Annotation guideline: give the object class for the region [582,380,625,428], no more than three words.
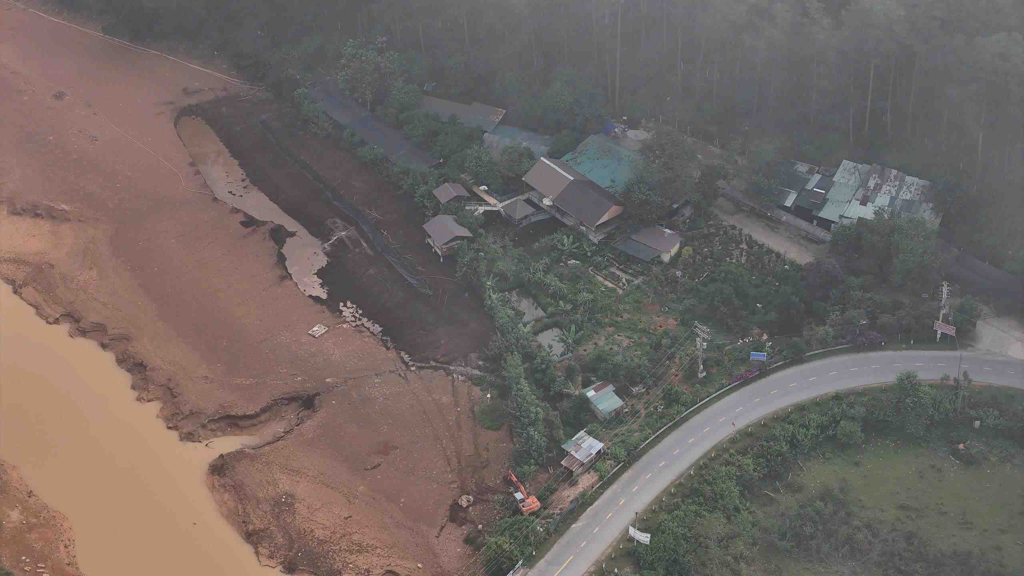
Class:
shed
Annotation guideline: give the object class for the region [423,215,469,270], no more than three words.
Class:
building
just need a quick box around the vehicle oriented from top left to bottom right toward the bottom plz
[503,464,544,517]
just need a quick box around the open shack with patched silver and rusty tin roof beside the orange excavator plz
[560,427,605,486]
